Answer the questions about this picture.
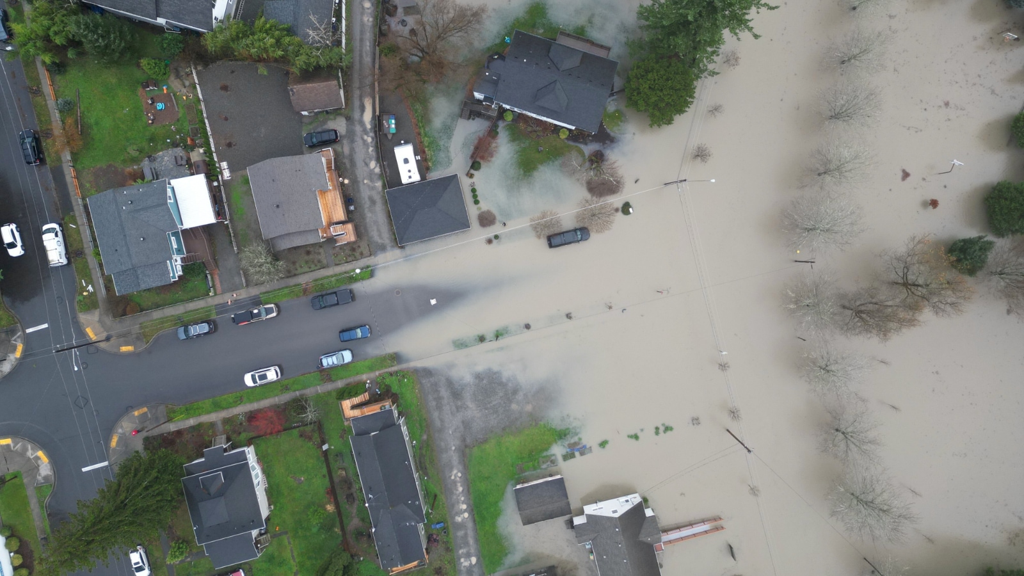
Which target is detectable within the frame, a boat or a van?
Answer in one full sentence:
The one in the frame is a van.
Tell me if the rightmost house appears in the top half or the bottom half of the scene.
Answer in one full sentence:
You can find the rightmost house in the bottom half.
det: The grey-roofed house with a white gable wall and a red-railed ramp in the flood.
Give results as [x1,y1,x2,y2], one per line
[573,493,728,576]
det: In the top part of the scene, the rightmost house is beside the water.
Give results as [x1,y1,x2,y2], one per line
[459,29,619,133]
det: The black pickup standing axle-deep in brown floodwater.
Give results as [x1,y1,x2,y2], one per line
[546,228,590,250]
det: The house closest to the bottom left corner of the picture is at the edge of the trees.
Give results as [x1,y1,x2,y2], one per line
[181,434,272,569]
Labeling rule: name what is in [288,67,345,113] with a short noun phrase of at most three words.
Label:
shed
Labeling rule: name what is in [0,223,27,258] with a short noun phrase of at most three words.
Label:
car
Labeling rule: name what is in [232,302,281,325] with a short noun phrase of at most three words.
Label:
truck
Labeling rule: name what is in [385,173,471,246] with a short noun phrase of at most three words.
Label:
building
